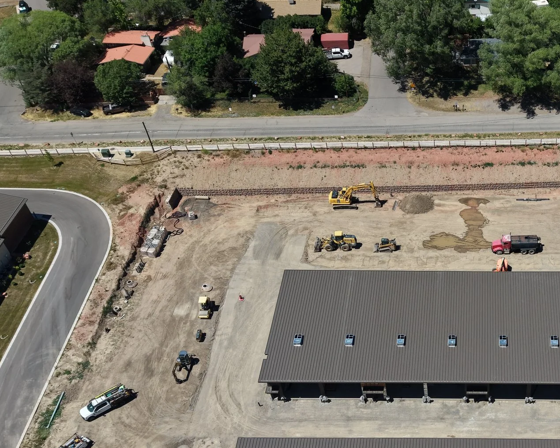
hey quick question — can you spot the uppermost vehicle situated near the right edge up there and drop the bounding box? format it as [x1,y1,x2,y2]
[491,234,542,253]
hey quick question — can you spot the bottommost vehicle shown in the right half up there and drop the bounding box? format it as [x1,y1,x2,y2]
[493,255,509,269]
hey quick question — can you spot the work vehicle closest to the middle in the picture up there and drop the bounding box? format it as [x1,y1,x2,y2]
[313,229,358,250]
